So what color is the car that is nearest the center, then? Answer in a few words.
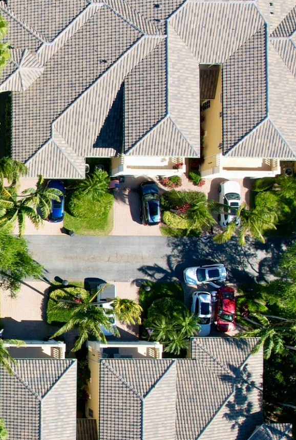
black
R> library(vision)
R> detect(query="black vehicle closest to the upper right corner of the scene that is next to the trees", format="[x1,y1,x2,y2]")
[138,182,162,226]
